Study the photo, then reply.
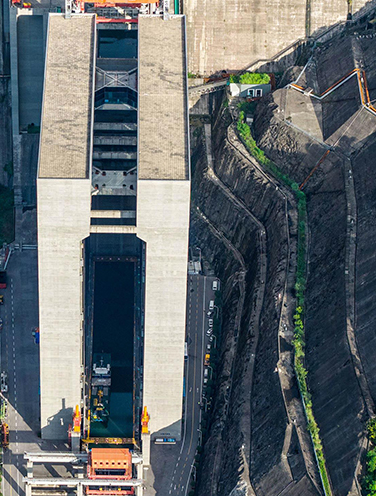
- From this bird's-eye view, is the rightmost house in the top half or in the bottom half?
top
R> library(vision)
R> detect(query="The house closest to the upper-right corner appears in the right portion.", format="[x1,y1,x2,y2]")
[230,70,270,98]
